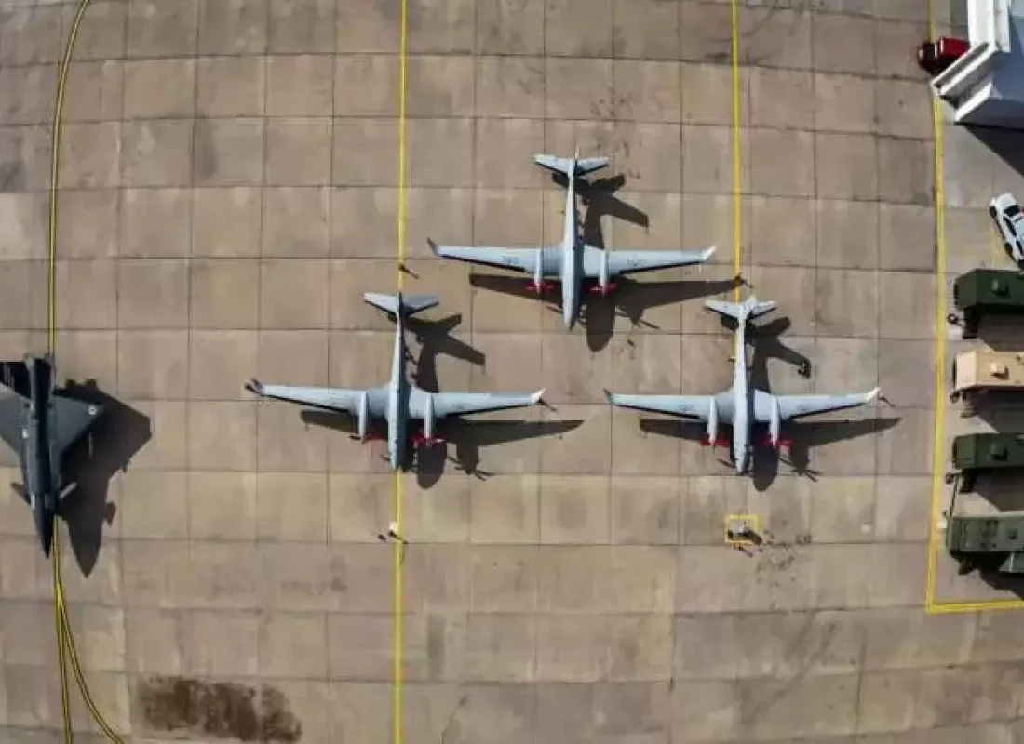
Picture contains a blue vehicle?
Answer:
No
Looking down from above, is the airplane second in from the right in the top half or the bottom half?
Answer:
top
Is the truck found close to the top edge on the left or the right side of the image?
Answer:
right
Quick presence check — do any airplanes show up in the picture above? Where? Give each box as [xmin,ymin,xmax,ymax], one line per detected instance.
[601,297,882,474]
[427,142,714,331]
[250,289,540,472]
[0,354,106,562]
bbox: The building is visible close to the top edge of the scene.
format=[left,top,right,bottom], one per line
[931,0,1024,125]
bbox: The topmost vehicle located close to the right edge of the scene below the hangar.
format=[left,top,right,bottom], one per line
[984,191,1024,261]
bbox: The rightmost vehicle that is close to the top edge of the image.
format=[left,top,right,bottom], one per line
[916,36,972,73]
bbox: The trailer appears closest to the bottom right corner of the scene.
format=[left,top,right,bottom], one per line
[939,510,1024,569]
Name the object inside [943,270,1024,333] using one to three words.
trailer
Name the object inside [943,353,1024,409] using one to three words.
trailer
